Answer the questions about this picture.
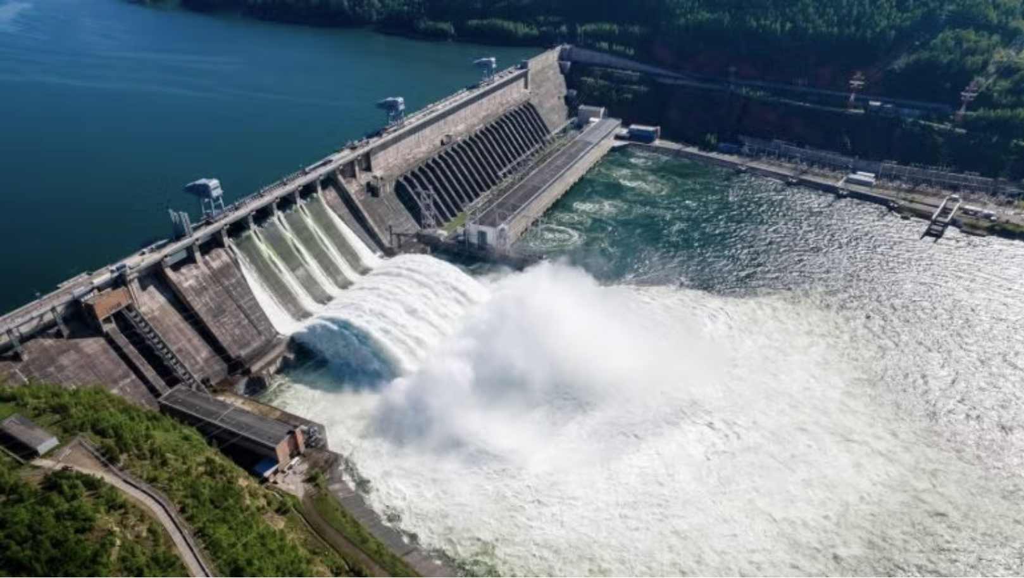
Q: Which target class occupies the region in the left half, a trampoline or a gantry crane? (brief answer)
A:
gantry crane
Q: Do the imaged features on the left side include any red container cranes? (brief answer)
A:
No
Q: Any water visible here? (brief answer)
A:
Yes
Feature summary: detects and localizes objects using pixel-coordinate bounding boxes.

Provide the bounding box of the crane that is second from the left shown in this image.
[365,89,410,126]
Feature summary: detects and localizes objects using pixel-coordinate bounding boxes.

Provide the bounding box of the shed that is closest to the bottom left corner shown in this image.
[4,417,60,459]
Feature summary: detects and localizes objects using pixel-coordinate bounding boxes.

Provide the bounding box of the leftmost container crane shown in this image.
[170,176,223,224]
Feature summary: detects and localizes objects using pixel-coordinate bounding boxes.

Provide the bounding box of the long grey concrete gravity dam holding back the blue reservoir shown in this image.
[0,48,587,442]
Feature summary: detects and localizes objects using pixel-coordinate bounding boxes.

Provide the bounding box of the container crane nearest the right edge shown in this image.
[461,48,501,80]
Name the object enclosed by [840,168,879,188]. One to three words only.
building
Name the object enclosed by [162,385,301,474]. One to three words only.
building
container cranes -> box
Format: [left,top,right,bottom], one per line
[170,176,223,224]
[365,89,410,126]
[461,48,501,80]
